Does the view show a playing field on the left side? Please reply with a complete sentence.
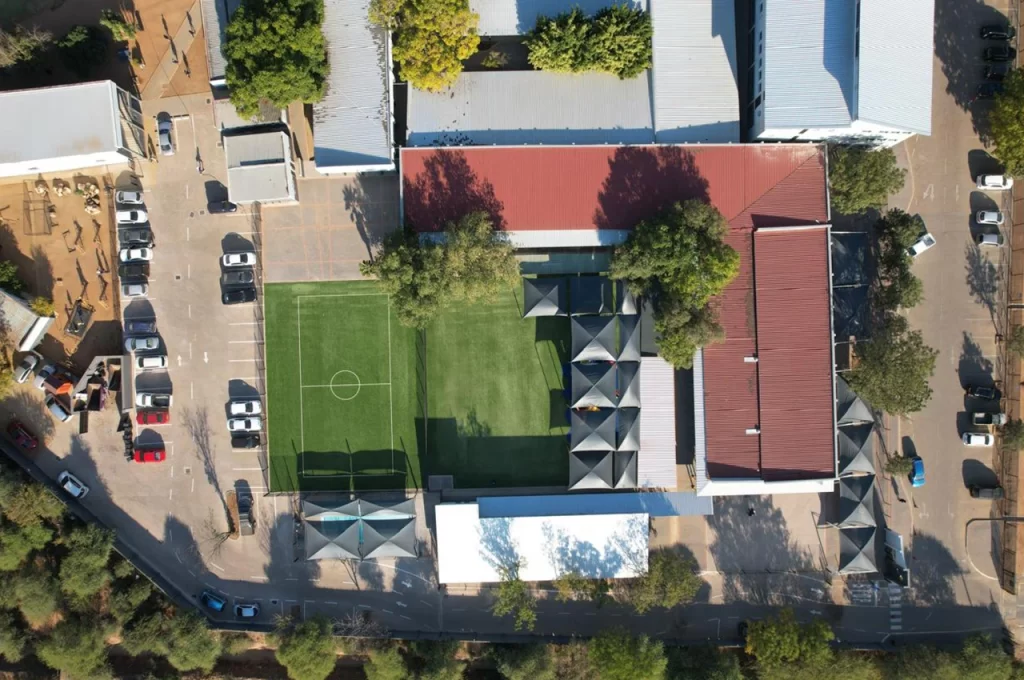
Yes, a playing field is visible on the left side.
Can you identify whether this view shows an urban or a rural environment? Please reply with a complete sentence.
The land in this view is best described as urban.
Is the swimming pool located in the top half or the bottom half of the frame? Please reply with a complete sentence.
The bottom half of the photo is where the swimming pool is.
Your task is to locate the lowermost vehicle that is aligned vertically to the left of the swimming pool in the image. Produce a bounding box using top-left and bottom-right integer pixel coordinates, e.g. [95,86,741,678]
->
[237,495,254,532]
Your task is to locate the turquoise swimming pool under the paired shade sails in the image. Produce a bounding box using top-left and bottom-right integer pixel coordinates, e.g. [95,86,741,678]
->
[300,491,427,560]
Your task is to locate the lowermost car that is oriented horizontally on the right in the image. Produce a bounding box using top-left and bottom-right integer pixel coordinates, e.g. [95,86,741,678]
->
[967,485,1001,500]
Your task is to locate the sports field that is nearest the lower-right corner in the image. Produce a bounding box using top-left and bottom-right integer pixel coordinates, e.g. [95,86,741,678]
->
[417,273,642,491]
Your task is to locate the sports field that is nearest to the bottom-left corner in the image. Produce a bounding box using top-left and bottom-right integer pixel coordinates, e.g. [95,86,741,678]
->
[263,281,421,493]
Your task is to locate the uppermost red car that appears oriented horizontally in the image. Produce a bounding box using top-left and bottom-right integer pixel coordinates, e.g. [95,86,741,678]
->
[137,410,171,425]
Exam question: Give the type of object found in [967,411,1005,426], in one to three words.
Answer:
vehicle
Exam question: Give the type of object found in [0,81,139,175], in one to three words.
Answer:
building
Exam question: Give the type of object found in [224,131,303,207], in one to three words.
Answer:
shed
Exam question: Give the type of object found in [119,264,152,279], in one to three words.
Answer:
car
